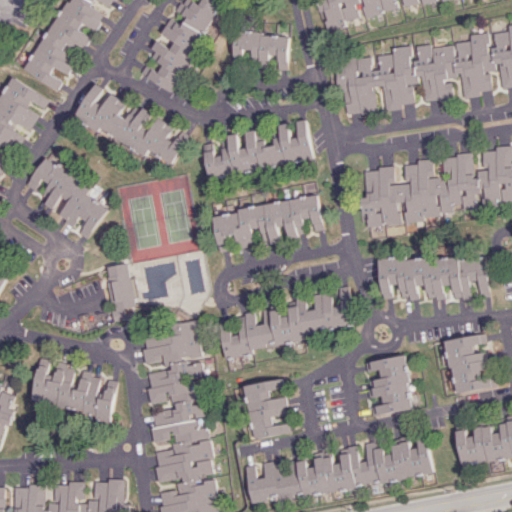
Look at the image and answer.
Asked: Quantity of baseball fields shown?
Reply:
0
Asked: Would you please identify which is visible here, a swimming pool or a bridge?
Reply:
swimming pool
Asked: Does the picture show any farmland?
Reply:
No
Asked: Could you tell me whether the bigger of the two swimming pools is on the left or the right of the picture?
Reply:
left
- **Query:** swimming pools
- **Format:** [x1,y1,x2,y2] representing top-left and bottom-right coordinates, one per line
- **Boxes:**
[142,262,176,300]
[186,259,205,294]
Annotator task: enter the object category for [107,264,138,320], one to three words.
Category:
building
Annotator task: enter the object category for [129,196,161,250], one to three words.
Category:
tennis court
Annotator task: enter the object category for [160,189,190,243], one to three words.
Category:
tennis court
